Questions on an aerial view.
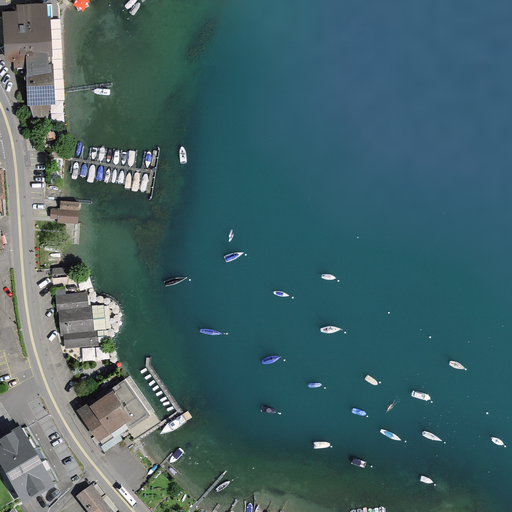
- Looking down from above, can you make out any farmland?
No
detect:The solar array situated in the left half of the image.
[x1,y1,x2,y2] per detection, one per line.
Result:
[26,86,54,104]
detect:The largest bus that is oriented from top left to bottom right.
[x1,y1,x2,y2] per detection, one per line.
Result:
[118,486,138,506]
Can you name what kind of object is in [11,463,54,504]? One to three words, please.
house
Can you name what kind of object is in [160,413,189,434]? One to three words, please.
boat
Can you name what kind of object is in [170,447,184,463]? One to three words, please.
boat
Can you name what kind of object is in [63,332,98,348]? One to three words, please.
building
